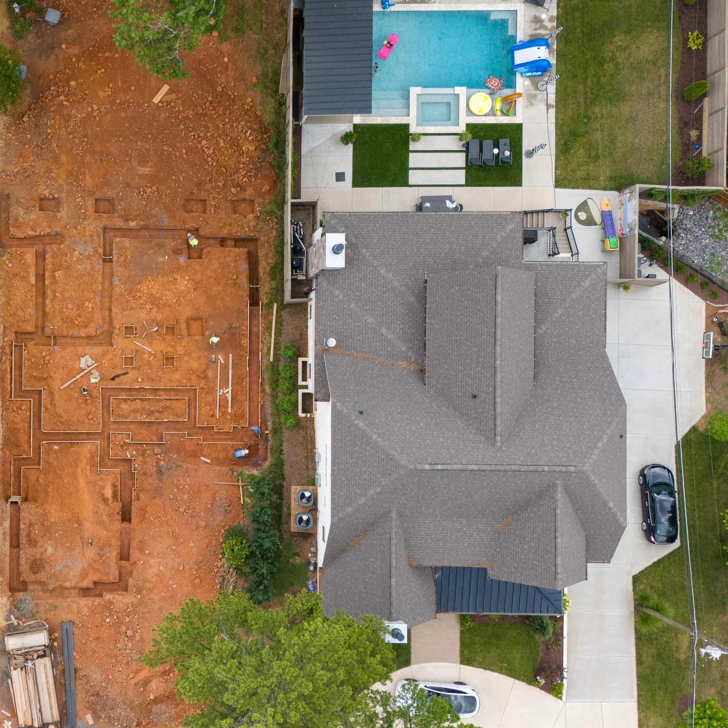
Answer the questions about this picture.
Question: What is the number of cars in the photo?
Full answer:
The number of cars here is 2.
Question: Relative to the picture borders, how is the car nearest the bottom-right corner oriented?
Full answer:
The car nearest the bottom-right corner has been laid out from top to bottom relative to the frame.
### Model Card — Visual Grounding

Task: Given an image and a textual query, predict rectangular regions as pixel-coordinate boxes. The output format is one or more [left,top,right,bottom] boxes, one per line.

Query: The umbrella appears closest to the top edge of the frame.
[543,21,570,42]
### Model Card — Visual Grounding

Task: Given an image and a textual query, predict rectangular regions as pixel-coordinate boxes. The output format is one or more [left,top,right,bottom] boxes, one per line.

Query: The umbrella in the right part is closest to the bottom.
[524,142,550,158]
